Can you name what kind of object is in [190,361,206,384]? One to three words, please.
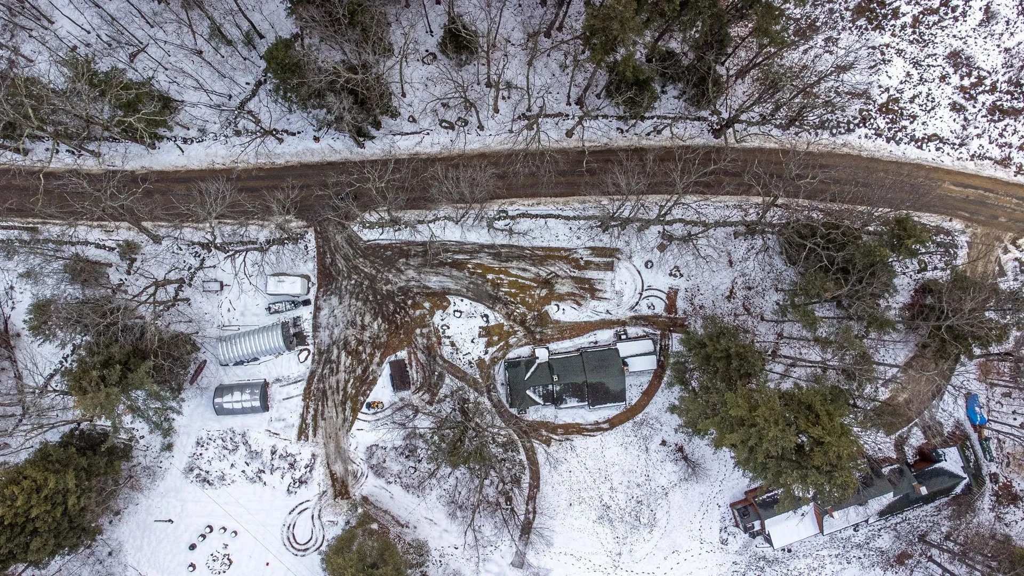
boat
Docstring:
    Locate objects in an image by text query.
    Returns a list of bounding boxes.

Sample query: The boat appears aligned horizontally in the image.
[262,300,301,315]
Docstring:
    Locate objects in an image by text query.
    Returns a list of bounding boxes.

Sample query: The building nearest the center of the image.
[504,327,657,415]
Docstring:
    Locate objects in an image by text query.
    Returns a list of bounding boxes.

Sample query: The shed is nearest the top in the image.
[211,320,289,367]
